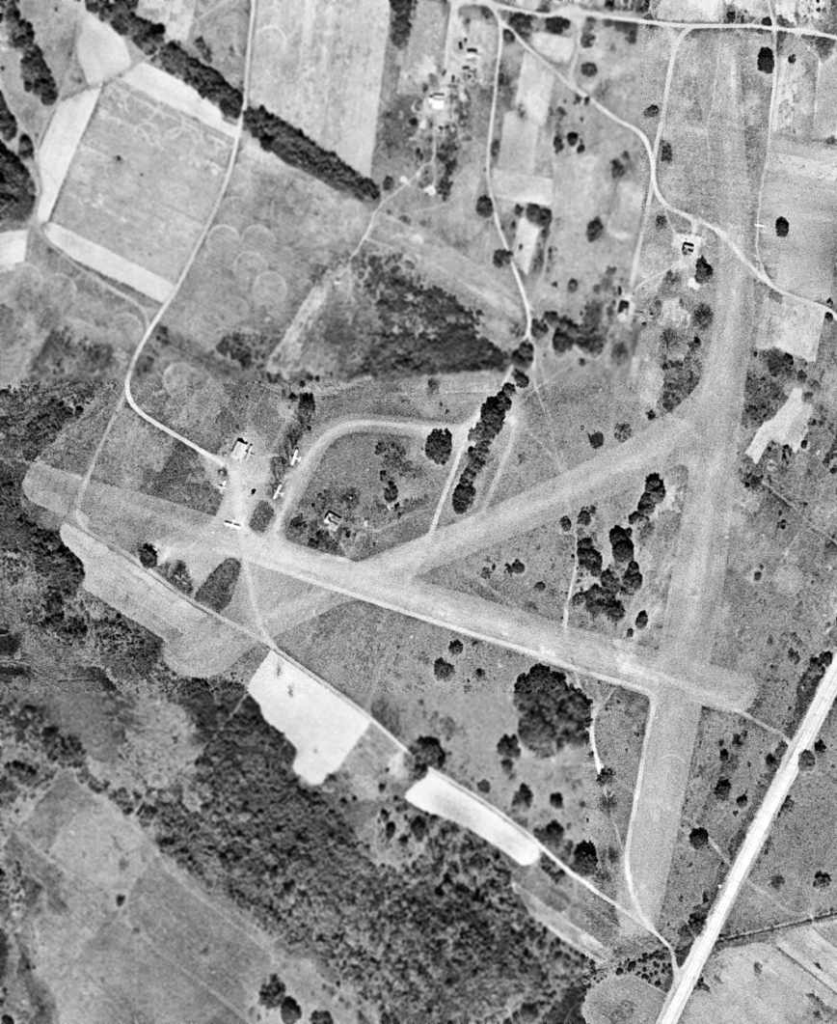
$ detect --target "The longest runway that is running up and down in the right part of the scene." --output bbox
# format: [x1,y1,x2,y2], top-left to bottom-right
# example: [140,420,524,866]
[630,239,756,925]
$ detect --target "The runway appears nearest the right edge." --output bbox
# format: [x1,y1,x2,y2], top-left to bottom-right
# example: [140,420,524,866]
[710,30,759,268]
